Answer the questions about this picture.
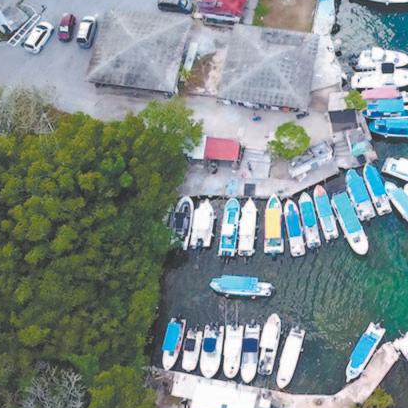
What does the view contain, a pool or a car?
car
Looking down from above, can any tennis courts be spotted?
No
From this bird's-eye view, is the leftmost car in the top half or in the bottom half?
top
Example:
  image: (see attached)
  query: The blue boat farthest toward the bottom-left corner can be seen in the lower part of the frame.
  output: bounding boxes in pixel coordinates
[161,314,188,369]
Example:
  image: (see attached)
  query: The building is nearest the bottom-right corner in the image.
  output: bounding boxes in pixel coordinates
[192,380,260,408]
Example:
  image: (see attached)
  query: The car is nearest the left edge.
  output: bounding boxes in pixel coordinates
[19,18,56,54]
